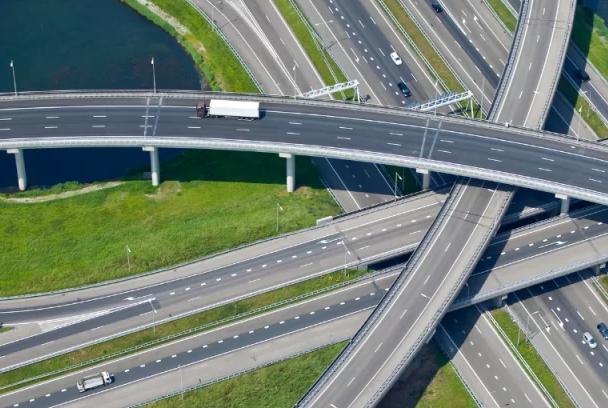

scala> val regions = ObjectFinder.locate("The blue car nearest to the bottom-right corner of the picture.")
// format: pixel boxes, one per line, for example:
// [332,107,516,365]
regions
[596,323,608,339]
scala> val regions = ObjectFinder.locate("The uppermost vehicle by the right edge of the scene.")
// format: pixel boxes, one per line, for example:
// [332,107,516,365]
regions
[578,70,592,82]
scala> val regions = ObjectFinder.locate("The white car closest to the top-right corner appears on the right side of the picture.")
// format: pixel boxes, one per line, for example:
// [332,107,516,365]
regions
[390,52,402,65]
